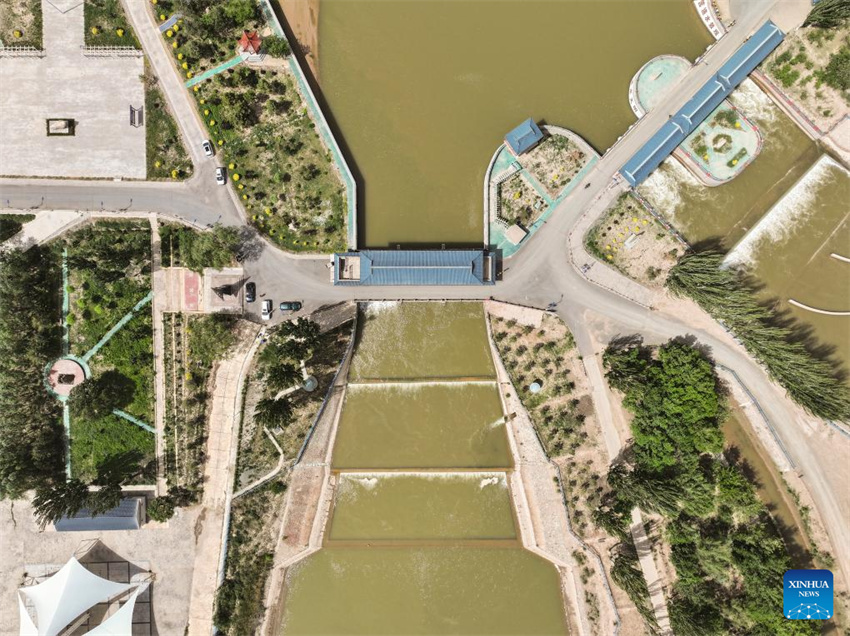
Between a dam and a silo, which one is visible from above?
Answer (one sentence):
There is a dam in the scene.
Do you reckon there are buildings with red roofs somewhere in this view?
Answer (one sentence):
Yes, there's a building with a red roof here.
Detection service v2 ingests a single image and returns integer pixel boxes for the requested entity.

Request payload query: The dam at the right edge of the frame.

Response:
[732,154,830,260]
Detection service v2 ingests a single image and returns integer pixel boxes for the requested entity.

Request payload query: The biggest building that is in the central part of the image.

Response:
[330,250,496,286]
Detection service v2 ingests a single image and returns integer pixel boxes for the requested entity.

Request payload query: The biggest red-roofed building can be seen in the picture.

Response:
[237,30,264,61]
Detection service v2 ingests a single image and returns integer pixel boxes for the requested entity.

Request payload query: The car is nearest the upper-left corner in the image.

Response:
[202,138,215,158]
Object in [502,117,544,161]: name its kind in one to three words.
building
